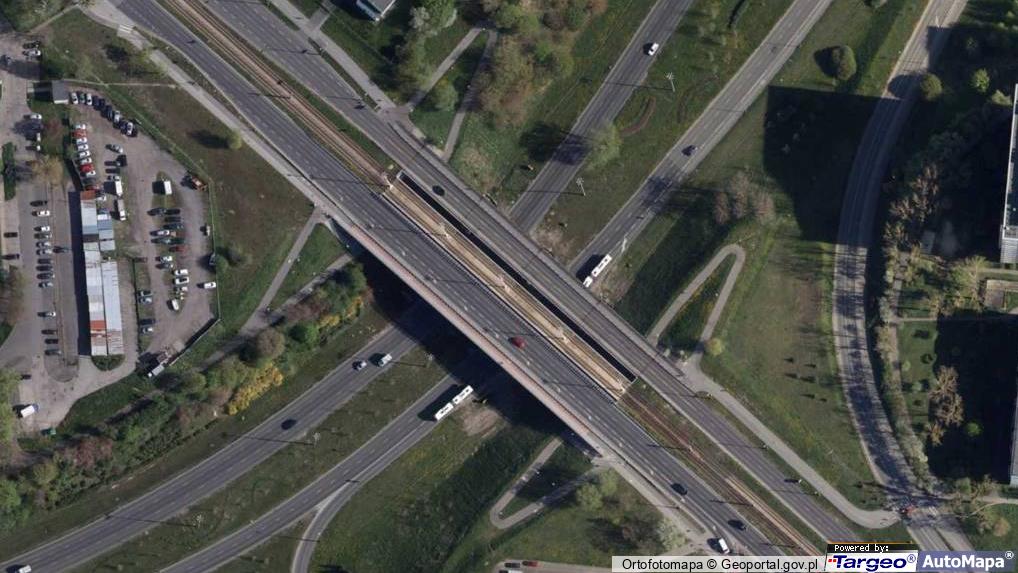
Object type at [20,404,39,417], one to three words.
vehicle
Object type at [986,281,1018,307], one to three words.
playground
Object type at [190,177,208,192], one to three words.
vehicle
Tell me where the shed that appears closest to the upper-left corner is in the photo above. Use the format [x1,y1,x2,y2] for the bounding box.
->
[52,81,69,103]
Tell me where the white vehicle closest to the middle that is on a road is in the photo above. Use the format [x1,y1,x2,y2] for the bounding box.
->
[580,255,613,290]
